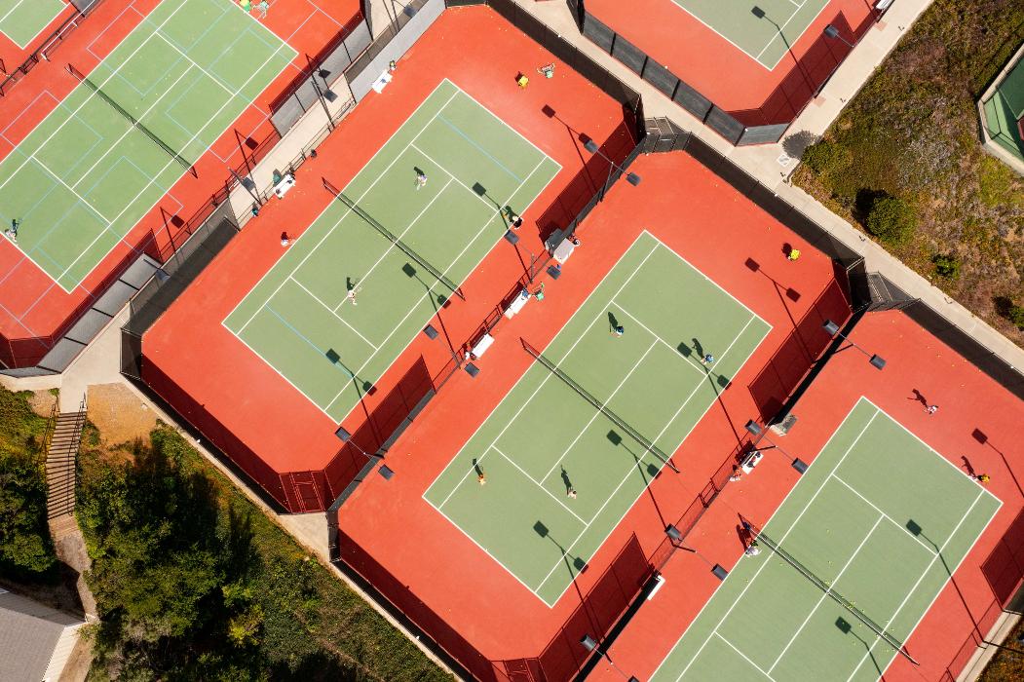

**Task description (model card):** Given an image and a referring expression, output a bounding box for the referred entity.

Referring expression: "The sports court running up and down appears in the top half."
[980,44,1024,172]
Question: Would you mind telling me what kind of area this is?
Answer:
sports ground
